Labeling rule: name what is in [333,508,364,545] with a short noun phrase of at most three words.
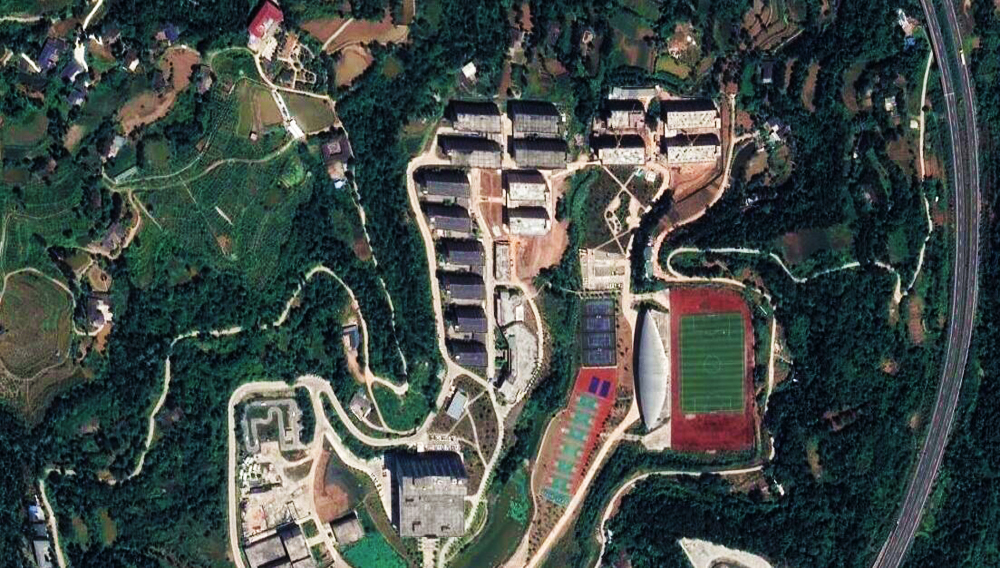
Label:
building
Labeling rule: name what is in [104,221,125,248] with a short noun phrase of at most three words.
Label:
house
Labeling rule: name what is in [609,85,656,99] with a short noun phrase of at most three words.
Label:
shed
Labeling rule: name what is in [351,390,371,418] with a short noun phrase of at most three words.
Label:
house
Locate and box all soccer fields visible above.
[680,312,744,414]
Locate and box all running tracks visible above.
[670,288,755,453]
